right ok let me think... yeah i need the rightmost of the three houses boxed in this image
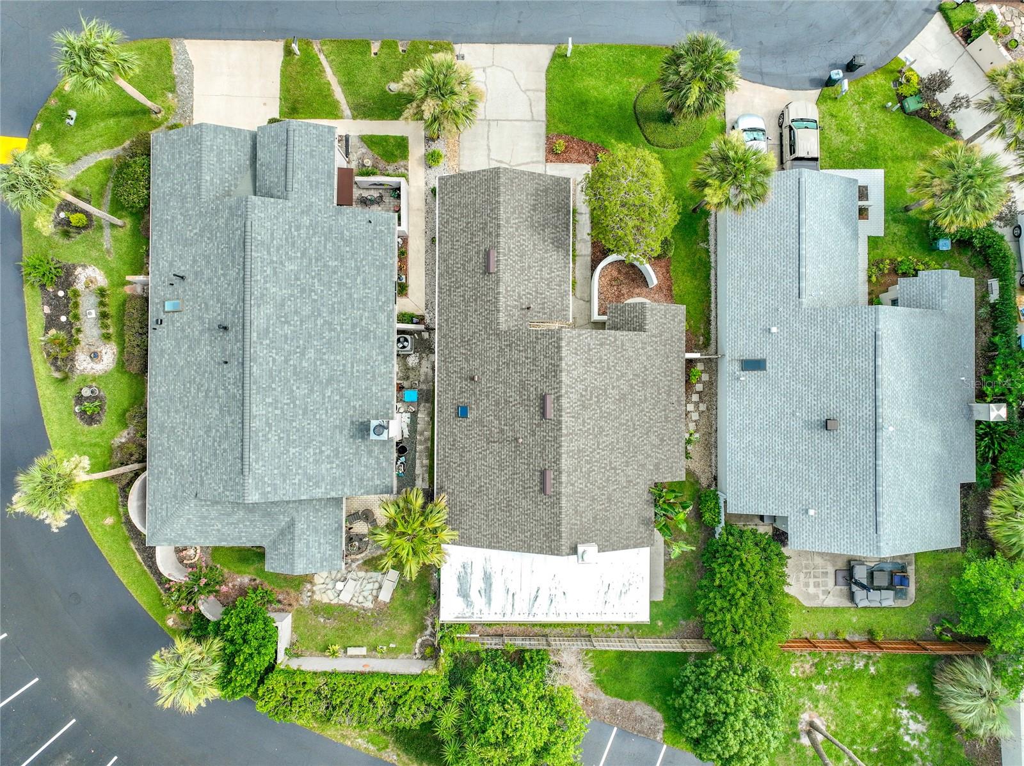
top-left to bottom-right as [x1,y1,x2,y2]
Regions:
[718,169,1007,556]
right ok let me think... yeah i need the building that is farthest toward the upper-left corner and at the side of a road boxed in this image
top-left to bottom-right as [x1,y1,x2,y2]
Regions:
[145,120,406,575]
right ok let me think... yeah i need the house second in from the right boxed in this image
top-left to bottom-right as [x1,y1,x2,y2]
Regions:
[433,167,685,623]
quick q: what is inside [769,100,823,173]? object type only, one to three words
truck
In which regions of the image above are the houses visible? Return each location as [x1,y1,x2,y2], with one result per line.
[718,169,1007,556]
[433,167,685,623]
[145,120,406,575]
